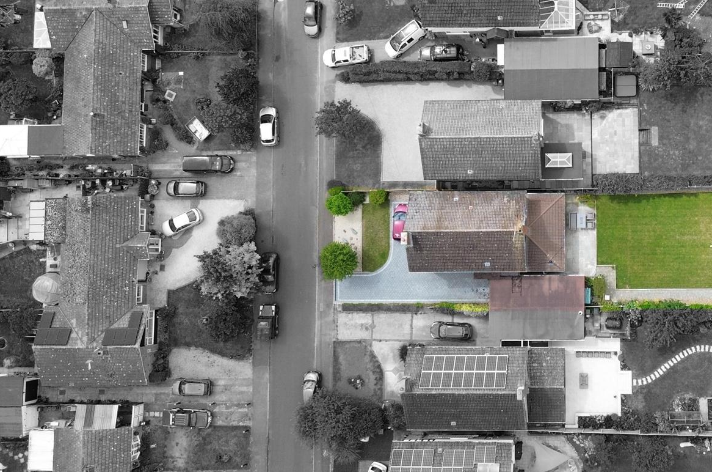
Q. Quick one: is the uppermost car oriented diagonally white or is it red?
white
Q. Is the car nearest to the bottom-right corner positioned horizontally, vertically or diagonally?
horizontally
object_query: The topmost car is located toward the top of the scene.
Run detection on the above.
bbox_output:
[302,0,324,38]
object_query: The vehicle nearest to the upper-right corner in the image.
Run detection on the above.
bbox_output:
[420,41,465,63]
